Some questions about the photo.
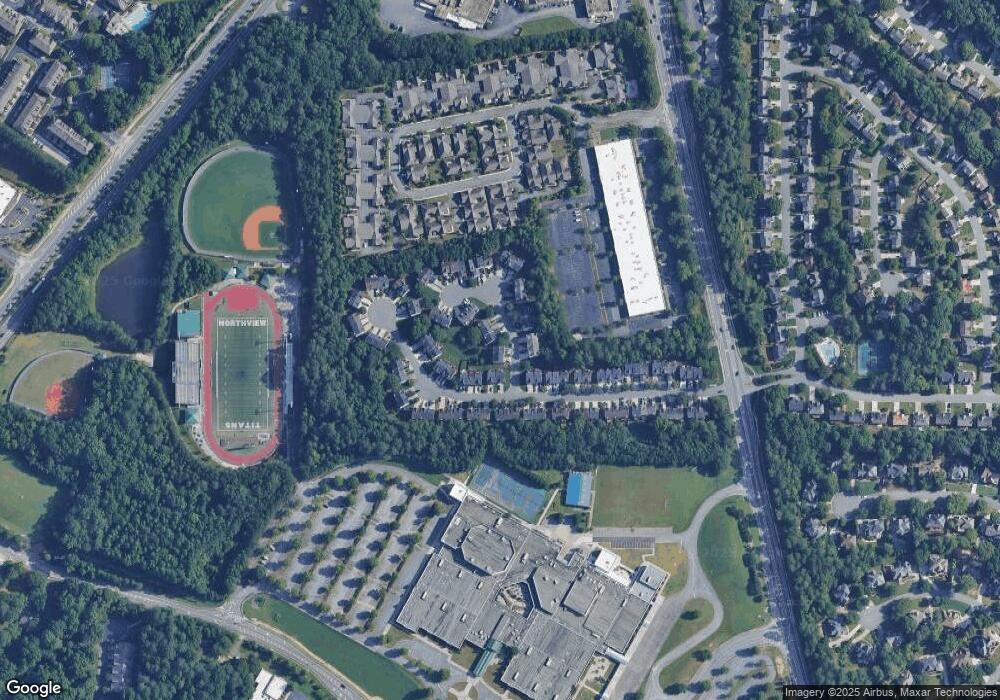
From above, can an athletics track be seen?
Yes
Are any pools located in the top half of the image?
Yes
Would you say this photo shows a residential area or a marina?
residential area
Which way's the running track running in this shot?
up and down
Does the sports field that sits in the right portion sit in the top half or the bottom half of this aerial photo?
bottom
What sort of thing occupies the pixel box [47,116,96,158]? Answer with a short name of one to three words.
building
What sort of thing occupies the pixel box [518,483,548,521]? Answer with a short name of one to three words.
tennis court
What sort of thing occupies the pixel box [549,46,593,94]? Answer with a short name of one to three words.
house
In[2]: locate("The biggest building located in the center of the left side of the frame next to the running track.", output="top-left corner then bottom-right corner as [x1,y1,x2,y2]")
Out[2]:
[178,309,201,336]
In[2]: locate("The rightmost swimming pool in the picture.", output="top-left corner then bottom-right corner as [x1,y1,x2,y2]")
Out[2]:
[815,338,840,365]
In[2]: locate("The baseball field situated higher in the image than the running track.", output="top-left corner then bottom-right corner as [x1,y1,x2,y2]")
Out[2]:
[183,145,298,259]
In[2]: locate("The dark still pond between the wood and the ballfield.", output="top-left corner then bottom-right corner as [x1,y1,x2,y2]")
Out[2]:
[96,210,173,340]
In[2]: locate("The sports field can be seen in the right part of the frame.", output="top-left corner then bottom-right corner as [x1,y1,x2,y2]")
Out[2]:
[592,466,731,527]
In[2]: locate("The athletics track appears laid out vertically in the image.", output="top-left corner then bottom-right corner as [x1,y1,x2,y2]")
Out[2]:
[203,284,283,468]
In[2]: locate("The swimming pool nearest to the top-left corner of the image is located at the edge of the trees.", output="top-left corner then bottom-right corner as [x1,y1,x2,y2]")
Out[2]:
[107,1,157,36]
